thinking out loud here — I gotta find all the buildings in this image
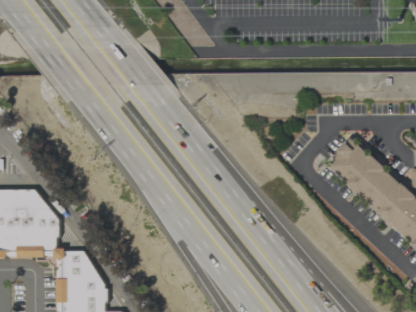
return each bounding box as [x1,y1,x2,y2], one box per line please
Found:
[330,140,416,252]
[0,190,110,312]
